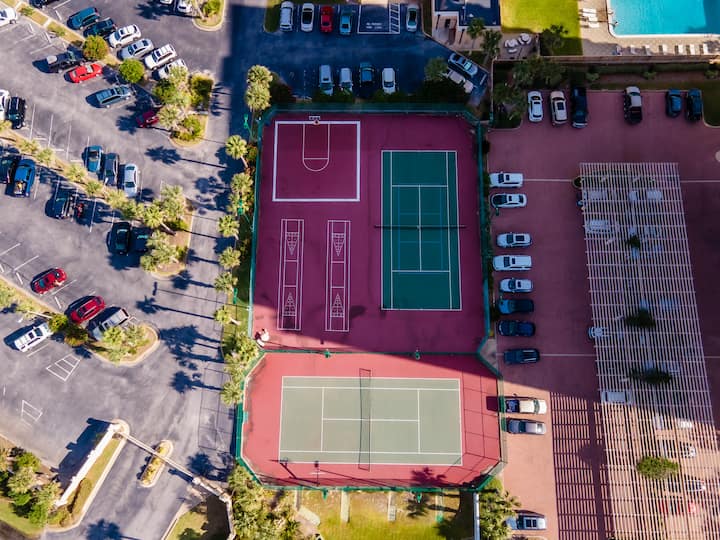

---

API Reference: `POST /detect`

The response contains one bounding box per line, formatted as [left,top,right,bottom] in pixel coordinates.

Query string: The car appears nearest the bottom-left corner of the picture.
[13,321,55,352]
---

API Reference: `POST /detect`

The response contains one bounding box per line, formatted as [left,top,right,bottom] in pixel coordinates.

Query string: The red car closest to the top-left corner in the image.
[70,63,103,84]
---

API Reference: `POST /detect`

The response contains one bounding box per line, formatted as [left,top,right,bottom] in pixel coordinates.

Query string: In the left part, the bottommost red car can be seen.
[70,296,106,323]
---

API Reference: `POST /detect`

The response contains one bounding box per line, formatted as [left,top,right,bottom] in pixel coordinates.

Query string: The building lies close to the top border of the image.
[434,0,503,44]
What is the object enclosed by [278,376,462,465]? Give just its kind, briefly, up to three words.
tennis court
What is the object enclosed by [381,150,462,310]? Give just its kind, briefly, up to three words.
tennis court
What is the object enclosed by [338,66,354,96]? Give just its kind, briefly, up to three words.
car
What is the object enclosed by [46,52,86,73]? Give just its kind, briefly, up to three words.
truck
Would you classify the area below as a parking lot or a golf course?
parking lot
